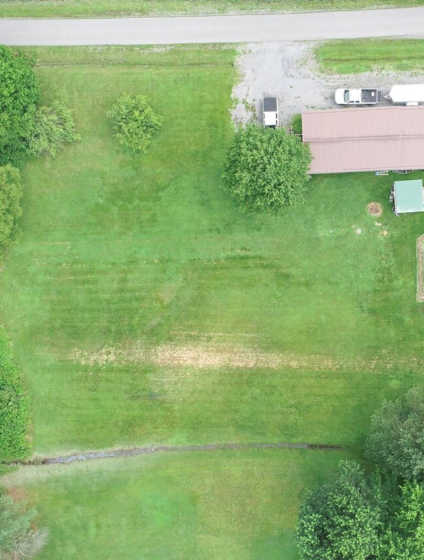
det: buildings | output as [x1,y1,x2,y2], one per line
[302,106,424,175]
[394,179,424,214]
